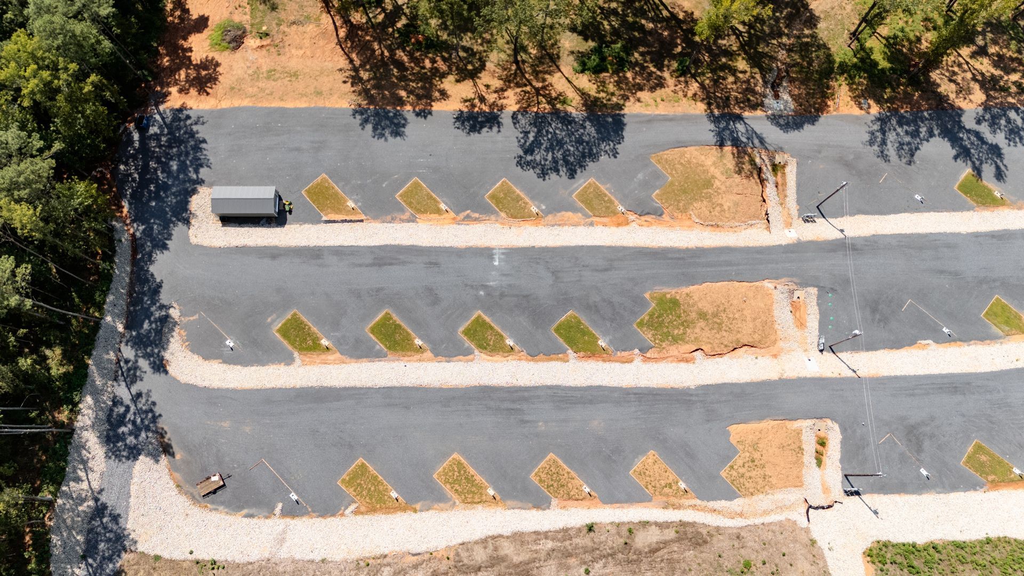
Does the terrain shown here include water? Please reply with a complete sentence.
No, water can't be seen anywhere here.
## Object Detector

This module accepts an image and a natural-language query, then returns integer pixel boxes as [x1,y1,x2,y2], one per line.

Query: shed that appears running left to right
[210,186,284,219]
